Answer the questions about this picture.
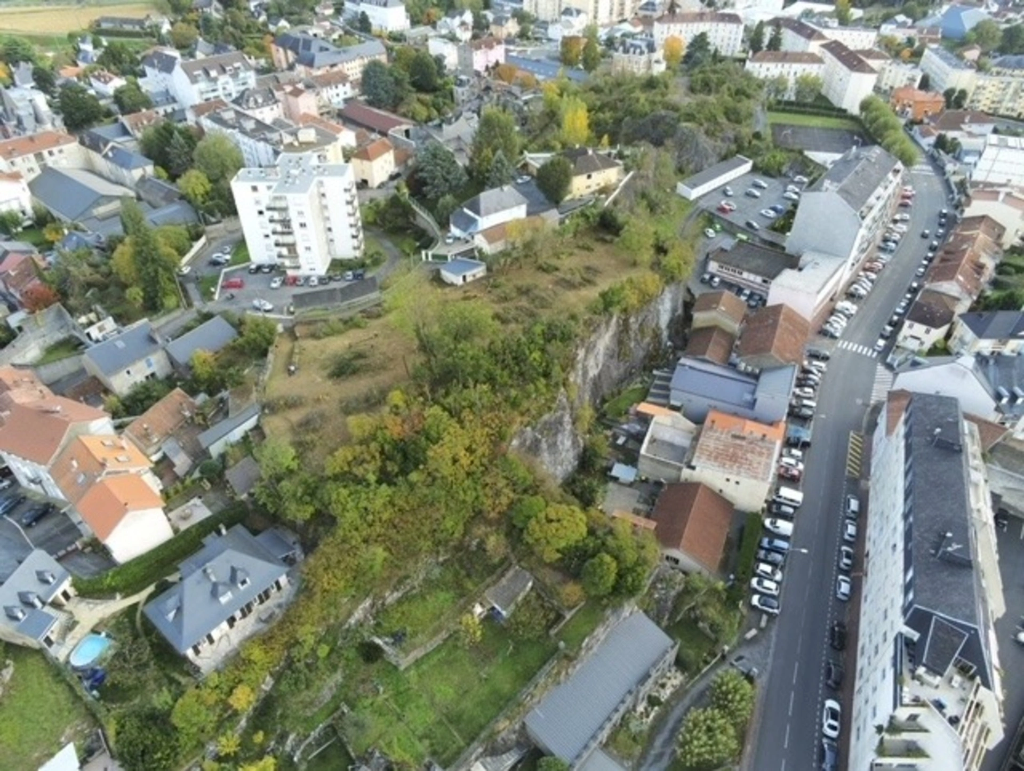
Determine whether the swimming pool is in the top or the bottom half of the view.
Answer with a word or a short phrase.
bottom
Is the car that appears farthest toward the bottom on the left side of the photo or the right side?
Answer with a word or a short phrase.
right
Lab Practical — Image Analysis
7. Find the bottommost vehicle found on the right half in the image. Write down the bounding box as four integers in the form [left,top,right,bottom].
[817,731,842,771]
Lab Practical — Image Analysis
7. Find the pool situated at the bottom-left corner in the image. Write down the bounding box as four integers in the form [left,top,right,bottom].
[62,626,114,668]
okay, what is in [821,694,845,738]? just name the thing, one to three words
car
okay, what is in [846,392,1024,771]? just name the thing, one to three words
building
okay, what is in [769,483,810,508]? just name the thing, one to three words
vehicle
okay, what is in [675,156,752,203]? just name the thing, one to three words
shed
